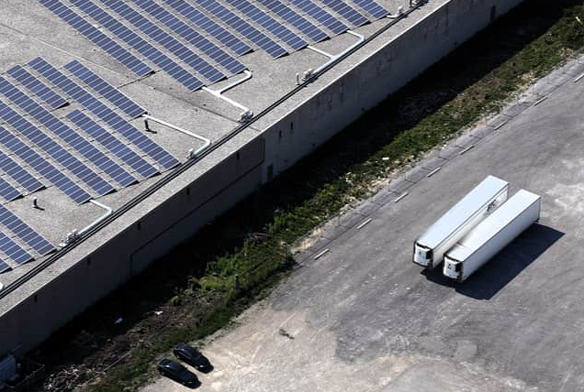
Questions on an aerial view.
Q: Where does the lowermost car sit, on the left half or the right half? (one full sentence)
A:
The lowermost car appears in the left half of the scene.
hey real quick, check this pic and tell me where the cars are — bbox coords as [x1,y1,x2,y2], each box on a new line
[169,342,212,369]
[153,359,196,385]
